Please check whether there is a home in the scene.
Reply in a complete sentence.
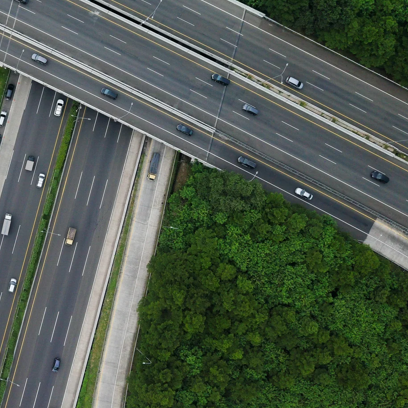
No, no home can be seen from above.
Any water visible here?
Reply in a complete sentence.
No, there's no water in this view.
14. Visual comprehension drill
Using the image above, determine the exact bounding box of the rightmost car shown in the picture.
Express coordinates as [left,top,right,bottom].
[370,171,389,185]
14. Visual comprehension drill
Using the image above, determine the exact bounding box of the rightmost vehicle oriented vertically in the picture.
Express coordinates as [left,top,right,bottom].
[147,151,160,181]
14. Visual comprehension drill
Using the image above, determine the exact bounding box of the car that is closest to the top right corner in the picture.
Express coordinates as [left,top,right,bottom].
[285,76,303,89]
